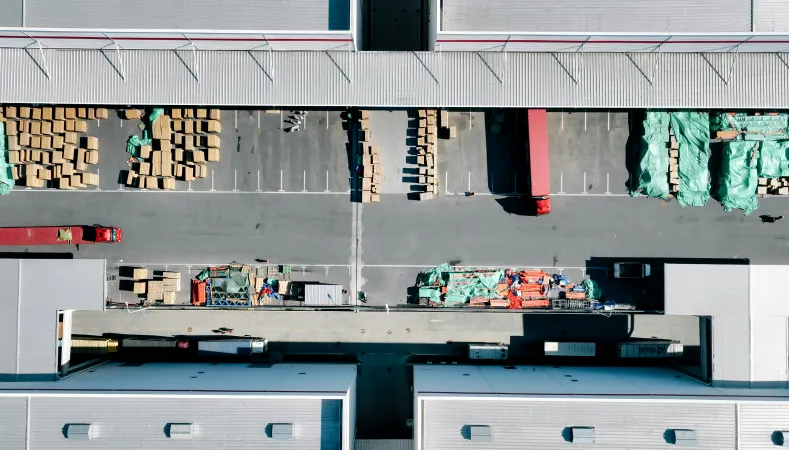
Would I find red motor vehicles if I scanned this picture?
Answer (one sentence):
Yes, the frame does contain a red motor vehicle.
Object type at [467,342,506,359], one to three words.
vehicle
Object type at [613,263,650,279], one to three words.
vehicle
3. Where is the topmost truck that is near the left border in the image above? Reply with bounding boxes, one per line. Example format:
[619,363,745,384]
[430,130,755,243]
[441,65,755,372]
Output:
[0,226,126,247]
